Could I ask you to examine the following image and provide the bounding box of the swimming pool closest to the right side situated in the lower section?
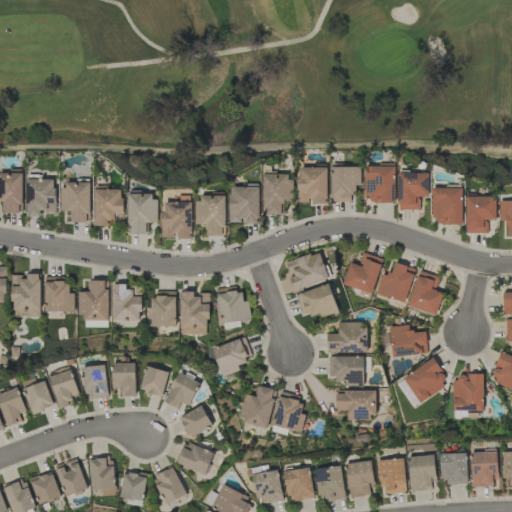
[490,398,504,418]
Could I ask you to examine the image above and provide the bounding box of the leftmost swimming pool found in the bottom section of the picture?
[21,341,42,354]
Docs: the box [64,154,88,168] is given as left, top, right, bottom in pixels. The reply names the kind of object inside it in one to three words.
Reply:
swimming pool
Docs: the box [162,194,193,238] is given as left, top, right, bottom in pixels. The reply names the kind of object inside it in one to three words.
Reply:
house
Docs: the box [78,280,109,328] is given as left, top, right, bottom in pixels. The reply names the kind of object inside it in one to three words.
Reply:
house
